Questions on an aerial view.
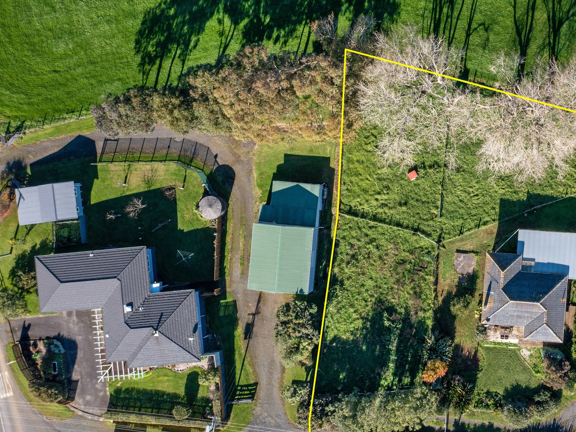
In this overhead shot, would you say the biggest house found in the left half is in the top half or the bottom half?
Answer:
bottom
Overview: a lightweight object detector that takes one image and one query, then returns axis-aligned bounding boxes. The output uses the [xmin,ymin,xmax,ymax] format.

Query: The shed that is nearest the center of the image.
[247,181,325,296]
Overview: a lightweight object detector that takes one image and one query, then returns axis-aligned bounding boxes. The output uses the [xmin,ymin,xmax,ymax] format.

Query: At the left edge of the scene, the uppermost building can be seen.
[15,181,85,226]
